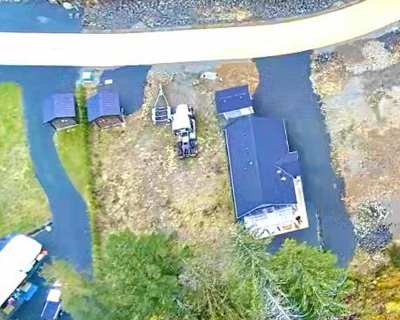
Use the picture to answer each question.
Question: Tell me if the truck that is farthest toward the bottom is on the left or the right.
left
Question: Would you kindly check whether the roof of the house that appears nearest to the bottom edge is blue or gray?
blue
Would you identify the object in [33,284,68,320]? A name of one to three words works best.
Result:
truck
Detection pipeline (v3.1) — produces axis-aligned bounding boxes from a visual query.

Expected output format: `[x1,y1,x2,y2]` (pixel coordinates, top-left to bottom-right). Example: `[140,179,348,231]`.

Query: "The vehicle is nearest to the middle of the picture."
[179,101,205,160]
